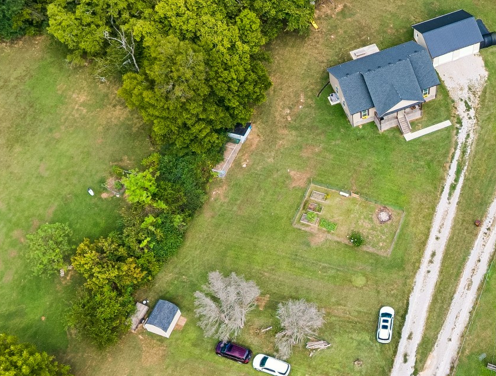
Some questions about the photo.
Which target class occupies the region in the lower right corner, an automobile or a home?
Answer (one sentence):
The one visible in the lower right corner is an automobile.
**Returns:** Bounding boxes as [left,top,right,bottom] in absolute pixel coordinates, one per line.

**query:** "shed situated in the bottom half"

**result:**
[140,298,186,337]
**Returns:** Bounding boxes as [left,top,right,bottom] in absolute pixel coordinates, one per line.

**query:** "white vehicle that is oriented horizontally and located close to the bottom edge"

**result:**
[252,355,292,376]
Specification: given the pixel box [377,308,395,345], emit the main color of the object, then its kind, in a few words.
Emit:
white car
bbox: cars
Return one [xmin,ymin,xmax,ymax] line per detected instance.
[377,308,395,345]
[214,343,254,365]
[252,355,292,376]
